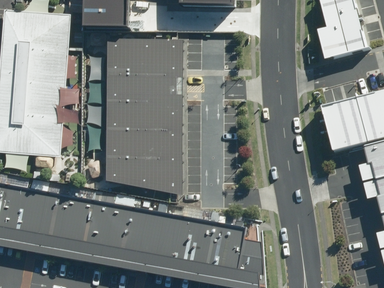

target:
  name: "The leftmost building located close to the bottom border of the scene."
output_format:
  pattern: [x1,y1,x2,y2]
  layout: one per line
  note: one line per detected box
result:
[0,185,267,288]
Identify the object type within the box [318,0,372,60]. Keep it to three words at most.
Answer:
building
